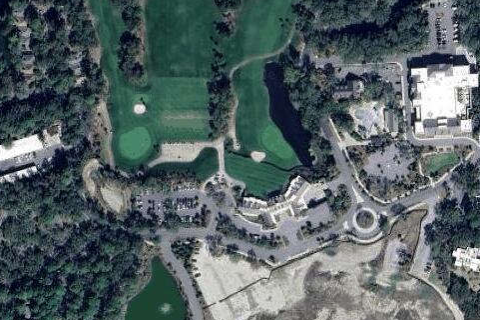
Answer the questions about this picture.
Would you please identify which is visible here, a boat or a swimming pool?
swimming pool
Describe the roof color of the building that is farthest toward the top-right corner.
white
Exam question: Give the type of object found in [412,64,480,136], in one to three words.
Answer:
building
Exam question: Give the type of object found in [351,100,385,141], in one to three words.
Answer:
swimming pool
